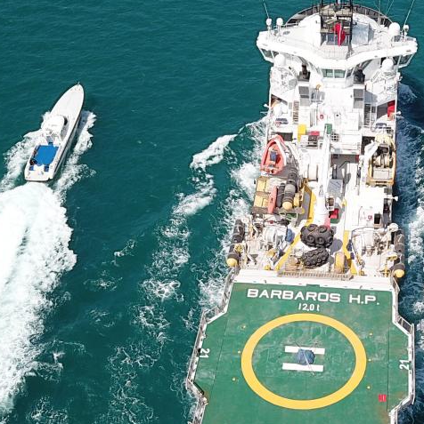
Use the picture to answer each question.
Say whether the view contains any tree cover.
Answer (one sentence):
No, there's no tree cover in this view.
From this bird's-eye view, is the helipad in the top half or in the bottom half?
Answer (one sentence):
It is in the bottom half that the helipad appears.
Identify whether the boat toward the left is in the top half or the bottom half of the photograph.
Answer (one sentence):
Seen from above, the boat toward the left lies in the top half of the view.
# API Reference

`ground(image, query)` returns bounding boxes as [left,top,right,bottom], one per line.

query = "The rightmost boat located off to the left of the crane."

[258,128,287,176]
